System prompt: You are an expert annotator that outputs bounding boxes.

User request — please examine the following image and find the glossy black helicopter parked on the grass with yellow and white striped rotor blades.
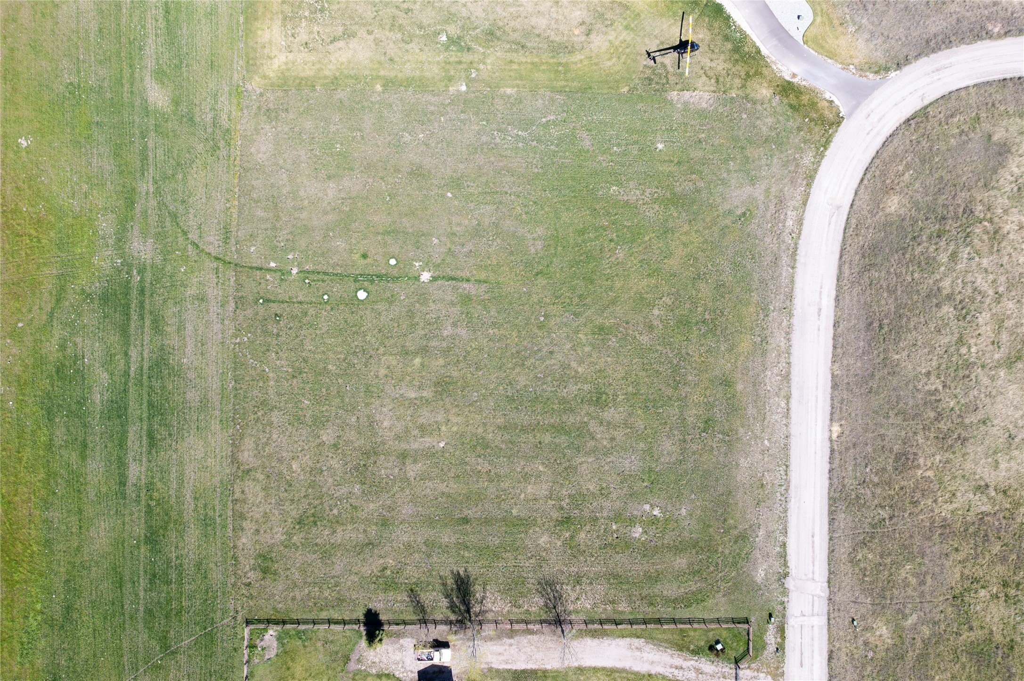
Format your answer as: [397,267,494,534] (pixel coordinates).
[646,13,700,75]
